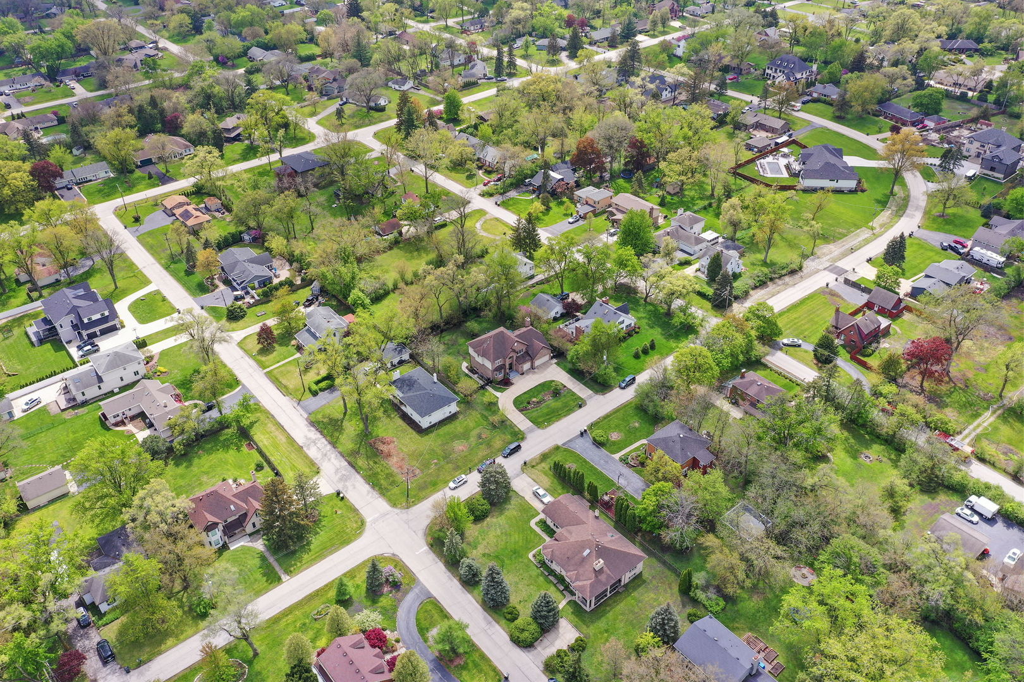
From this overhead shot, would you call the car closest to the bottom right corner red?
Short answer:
No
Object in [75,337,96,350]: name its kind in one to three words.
vehicle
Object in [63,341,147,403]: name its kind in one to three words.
house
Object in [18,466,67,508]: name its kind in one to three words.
building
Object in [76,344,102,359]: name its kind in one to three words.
vehicle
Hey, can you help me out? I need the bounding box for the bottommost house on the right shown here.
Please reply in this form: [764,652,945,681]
[673,615,779,682]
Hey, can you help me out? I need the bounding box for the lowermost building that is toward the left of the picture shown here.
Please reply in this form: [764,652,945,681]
[312,633,385,682]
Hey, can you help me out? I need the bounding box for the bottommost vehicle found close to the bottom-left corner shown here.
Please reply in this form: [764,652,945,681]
[95,637,116,665]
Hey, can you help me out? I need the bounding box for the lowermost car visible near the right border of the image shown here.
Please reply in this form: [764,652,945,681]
[1002,548,1023,568]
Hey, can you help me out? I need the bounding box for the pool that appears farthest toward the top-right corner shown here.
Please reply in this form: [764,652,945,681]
[766,161,784,174]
